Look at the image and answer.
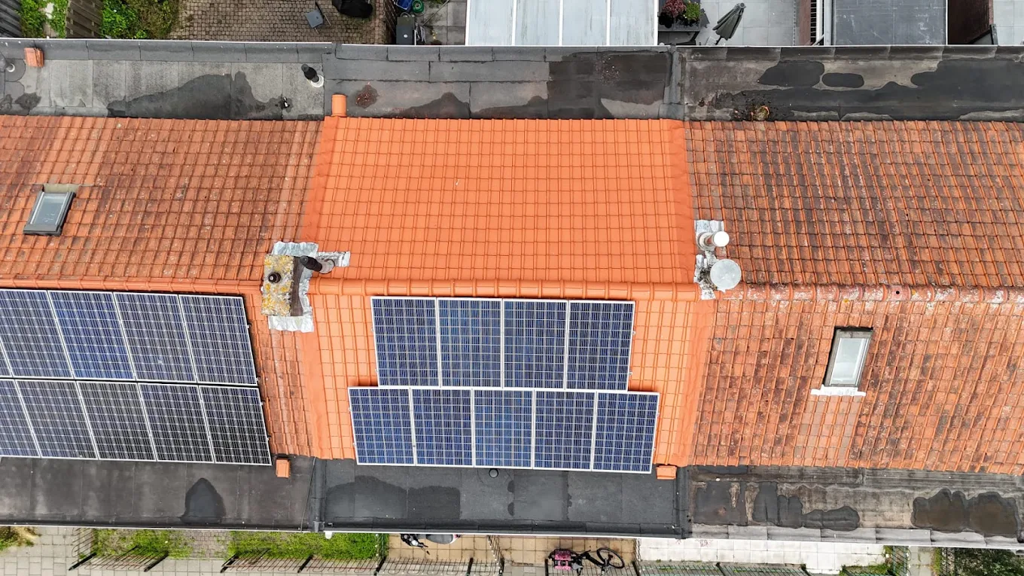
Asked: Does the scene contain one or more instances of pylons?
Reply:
No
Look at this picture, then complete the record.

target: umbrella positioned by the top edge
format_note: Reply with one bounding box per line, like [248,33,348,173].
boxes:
[706,0,755,45]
